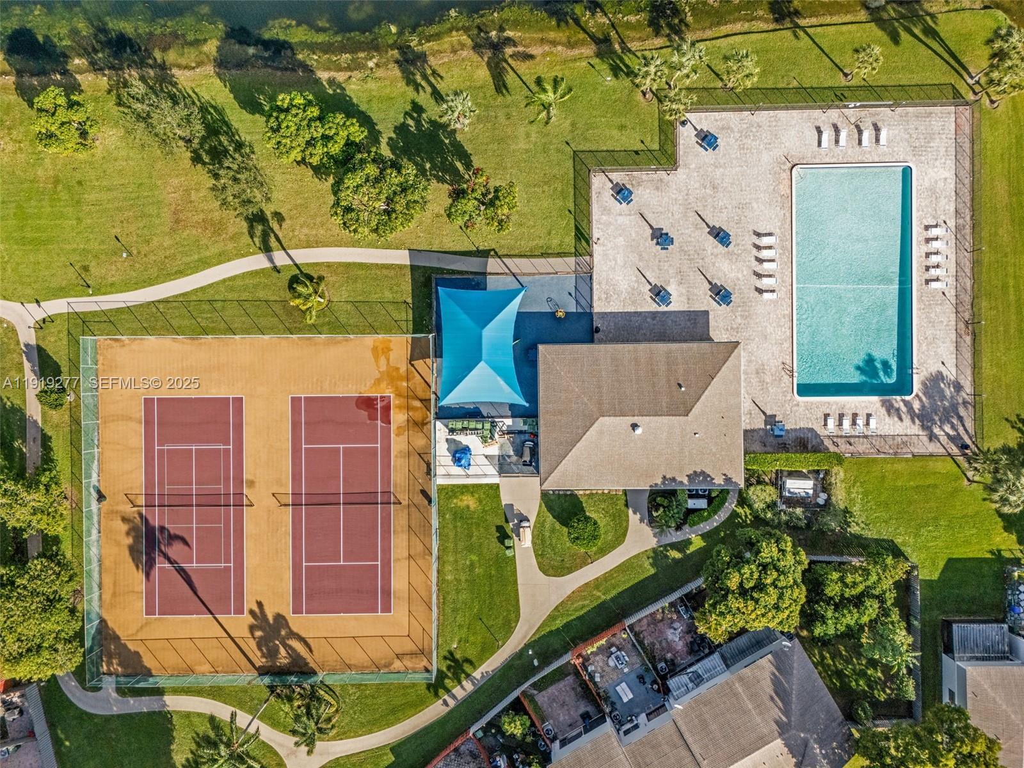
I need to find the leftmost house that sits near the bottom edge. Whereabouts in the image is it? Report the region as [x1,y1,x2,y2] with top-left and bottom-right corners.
[549,716,636,768]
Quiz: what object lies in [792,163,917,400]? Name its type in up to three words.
swimming pool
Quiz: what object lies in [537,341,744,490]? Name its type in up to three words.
building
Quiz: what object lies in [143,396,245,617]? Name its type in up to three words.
tennis court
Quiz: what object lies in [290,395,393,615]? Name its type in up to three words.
tennis court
